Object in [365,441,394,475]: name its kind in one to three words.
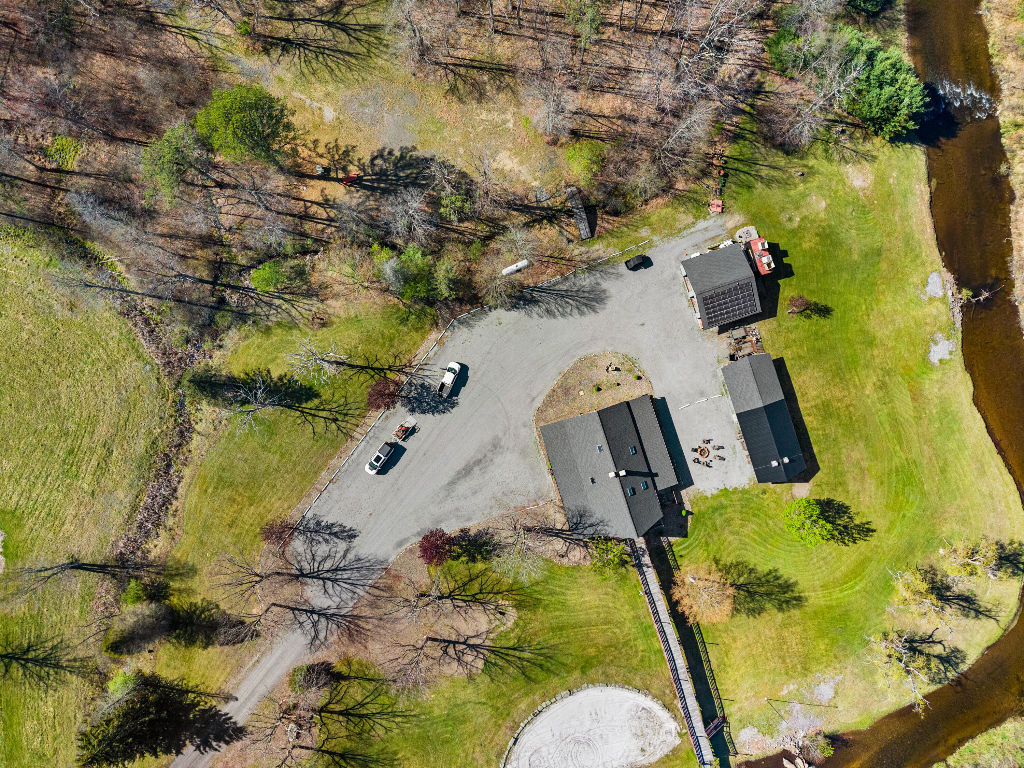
truck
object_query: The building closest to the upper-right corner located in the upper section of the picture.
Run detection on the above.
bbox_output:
[678,242,761,331]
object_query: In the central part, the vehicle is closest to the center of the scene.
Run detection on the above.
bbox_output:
[435,360,457,399]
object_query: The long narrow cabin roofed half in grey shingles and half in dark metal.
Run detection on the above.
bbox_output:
[721,353,807,483]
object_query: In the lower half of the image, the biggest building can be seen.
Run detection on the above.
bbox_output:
[539,394,681,539]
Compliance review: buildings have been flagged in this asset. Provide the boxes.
[539,394,681,539]
[678,242,761,331]
[721,353,807,483]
